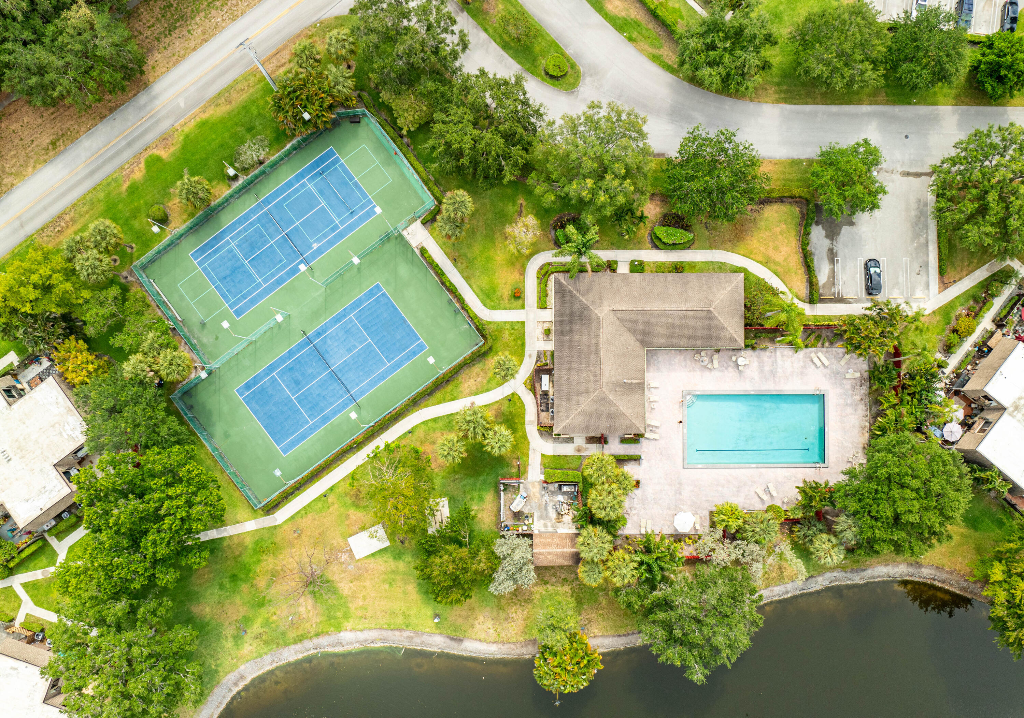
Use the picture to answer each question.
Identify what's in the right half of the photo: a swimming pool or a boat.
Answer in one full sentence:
What appears in the right half of the photo is a swimming pool.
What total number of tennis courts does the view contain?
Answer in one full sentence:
In total, there are 2 tennis courts in the scene.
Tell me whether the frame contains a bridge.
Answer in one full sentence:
No, there appears to be no bridge in this shot.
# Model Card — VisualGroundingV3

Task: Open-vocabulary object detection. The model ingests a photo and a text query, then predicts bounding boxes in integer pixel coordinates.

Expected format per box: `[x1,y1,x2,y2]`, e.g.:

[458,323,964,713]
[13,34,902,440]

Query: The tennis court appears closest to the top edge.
[145,117,433,362]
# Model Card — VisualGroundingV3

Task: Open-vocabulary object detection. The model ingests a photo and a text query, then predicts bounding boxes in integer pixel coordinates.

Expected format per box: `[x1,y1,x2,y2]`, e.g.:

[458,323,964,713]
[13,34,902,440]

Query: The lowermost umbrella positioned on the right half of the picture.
[671,510,695,533]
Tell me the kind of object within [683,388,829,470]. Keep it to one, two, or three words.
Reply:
swimming pool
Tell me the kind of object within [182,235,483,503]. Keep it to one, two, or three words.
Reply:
tennis court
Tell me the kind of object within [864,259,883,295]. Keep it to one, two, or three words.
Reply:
car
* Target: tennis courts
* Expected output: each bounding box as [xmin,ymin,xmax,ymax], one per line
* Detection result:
[145,117,433,362]
[182,235,483,503]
